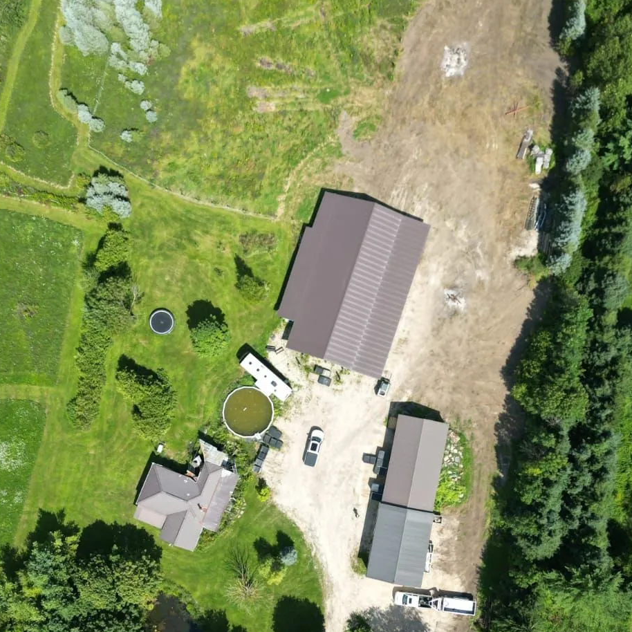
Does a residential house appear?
Yes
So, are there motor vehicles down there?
Yes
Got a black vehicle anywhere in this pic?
No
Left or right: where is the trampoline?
left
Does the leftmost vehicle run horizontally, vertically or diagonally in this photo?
diagonally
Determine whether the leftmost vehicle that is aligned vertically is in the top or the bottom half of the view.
bottom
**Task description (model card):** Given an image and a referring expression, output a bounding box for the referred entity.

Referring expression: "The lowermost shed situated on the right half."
[366,503,433,588]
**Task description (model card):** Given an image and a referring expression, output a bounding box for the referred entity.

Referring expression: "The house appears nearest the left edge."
[131,460,239,551]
